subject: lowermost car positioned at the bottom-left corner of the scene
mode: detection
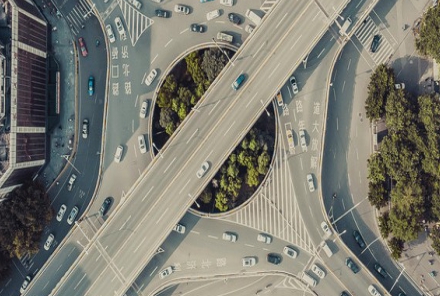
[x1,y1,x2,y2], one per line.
[17,276,31,293]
